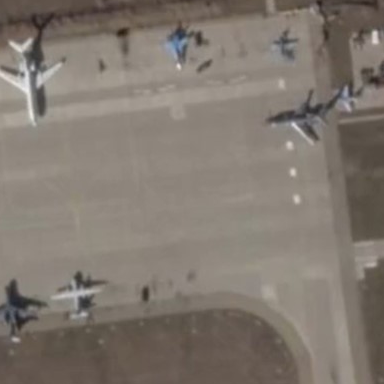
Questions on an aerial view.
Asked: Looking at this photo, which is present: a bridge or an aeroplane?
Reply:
aeroplane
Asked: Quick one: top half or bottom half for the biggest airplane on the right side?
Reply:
top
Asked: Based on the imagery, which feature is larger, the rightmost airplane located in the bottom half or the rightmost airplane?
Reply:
the rightmost airplane located in the bottom half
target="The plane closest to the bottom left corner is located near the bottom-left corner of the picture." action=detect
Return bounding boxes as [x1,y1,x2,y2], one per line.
[0,293,39,342]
